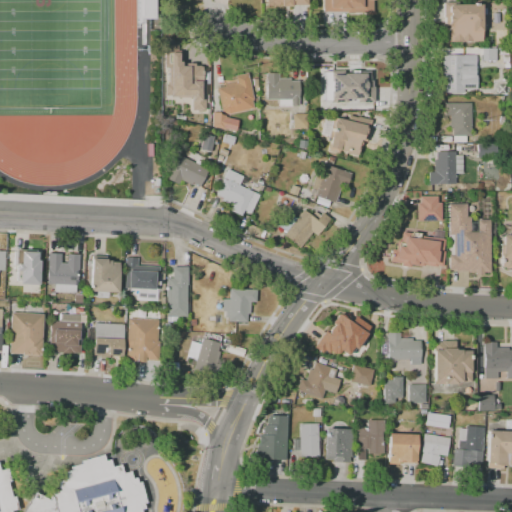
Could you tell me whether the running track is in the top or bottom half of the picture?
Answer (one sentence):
Seen from above, the running track lies in the top half of the view.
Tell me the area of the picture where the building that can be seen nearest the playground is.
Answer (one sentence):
The building that can be seen nearest the playground appears toward the bottom left of the photo.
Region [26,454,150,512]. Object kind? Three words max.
building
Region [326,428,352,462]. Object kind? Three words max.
house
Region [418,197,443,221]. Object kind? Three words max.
house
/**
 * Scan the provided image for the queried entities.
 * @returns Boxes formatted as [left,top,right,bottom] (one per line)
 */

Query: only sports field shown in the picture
[0,0,115,116]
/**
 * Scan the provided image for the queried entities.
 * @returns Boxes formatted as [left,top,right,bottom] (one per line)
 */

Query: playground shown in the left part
[144,455,182,512]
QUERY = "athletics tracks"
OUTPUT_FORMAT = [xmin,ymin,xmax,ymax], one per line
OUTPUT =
[0,0,138,186]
